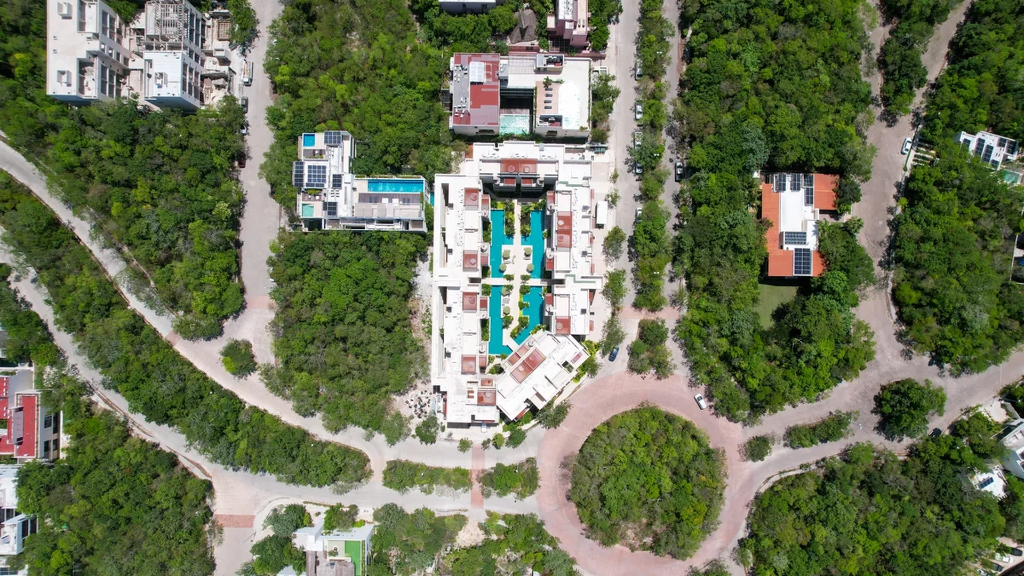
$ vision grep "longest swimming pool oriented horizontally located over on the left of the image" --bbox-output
[368,180,424,192]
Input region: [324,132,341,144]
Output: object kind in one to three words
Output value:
solar panel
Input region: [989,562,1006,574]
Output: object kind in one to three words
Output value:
vehicle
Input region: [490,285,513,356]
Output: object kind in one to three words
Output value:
swimming pool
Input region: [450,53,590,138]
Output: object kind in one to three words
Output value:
building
